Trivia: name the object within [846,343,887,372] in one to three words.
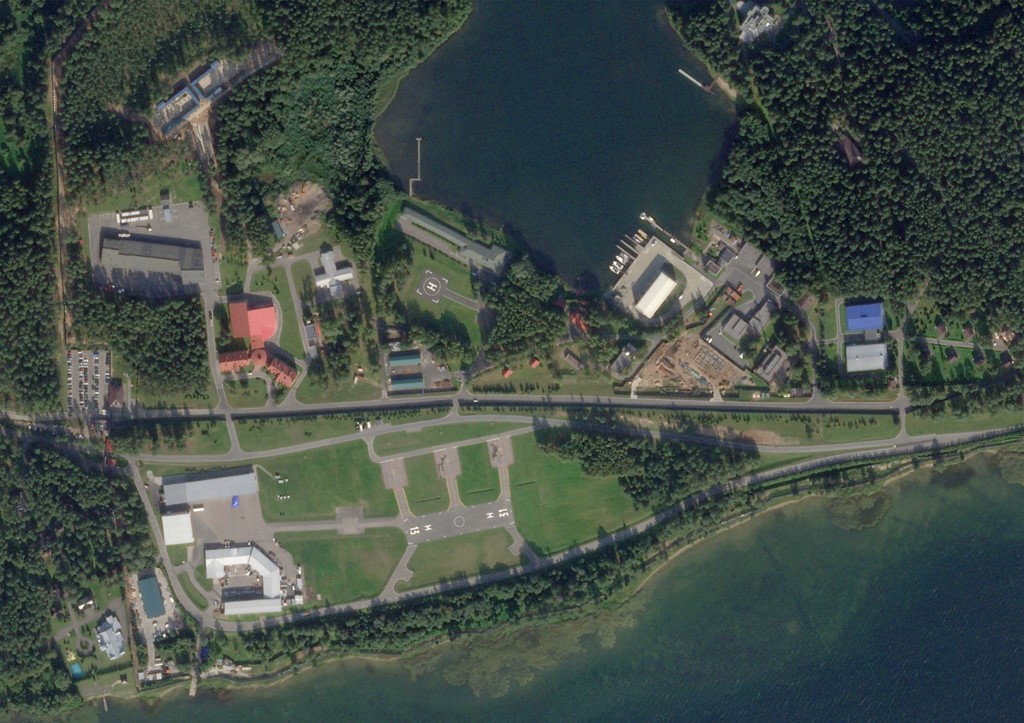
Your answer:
building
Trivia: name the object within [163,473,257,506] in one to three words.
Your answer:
hangar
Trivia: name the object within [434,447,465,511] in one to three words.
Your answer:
helipad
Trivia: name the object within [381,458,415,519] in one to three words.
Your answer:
helipad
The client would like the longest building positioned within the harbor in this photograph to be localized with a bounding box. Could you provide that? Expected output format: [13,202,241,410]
[635,272,678,319]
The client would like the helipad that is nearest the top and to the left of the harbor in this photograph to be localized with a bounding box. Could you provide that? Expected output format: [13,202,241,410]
[416,269,484,311]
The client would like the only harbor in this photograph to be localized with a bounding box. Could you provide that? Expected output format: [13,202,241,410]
[613,236,713,329]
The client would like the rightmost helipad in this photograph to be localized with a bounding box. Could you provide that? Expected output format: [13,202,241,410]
[487,436,514,501]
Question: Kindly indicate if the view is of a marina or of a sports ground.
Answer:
marina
